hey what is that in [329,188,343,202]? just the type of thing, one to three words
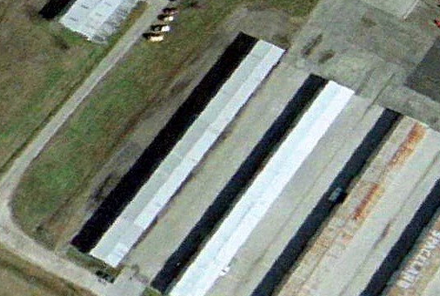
vehicle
